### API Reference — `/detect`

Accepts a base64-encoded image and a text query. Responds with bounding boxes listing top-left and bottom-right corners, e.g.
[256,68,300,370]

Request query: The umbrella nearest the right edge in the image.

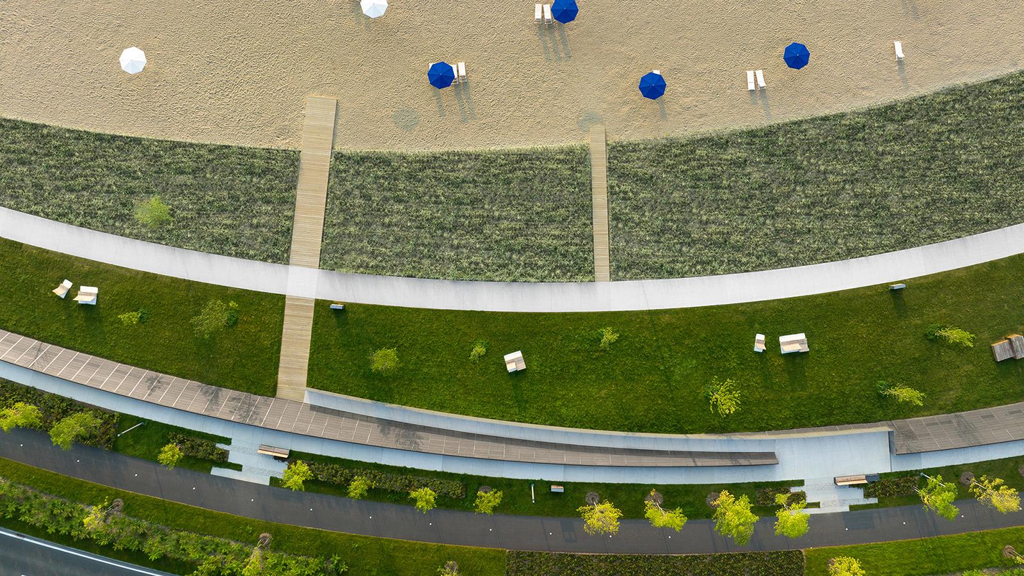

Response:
[781,43,809,71]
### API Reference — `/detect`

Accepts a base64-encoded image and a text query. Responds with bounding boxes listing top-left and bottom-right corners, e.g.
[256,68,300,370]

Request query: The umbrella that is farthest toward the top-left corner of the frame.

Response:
[121,47,149,74]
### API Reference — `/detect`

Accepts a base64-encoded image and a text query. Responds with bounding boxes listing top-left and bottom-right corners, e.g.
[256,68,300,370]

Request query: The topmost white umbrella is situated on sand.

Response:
[361,0,388,20]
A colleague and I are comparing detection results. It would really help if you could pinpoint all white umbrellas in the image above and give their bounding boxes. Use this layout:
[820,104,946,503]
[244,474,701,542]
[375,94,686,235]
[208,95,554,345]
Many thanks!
[361,0,388,20]
[121,47,149,74]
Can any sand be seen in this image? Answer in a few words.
Yes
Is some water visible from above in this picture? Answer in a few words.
No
